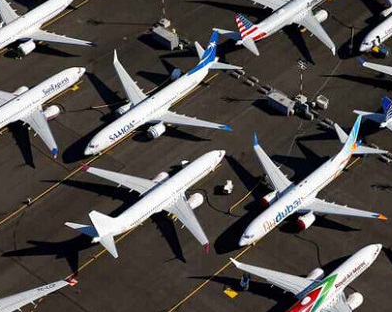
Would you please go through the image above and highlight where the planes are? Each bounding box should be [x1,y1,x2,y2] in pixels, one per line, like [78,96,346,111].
[229,244,384,312]
[0,68,86,160]
[0,0,96,57]
[359,0,392,53]
[238,113,389,246]
[66,150,227,257]
[84,30,242,155]
[0,273,79,312]
[212,0,335,55]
